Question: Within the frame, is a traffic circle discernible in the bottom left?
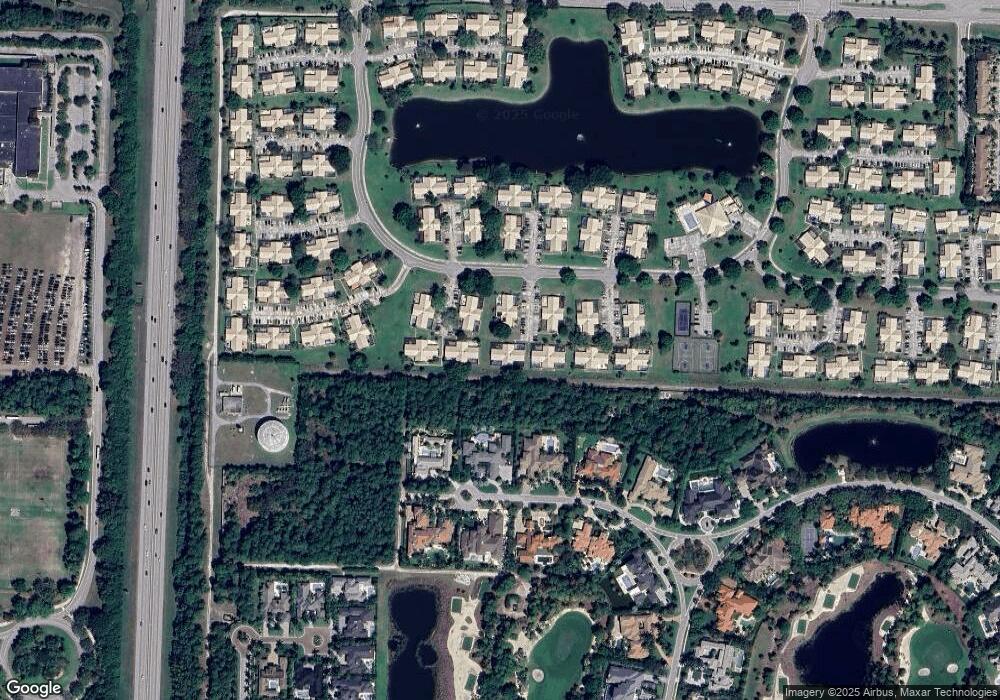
Yes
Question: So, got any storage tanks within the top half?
No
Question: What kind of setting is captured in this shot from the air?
residential area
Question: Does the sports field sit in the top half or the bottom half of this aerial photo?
bottom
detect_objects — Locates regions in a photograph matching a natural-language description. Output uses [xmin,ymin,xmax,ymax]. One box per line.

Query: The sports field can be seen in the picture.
[0,438,65,592]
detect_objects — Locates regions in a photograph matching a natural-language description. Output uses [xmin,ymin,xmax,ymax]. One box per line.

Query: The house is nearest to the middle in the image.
[491,343,524,365]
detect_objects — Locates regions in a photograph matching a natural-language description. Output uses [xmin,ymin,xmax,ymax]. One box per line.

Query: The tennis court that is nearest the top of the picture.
[675,301,691,336]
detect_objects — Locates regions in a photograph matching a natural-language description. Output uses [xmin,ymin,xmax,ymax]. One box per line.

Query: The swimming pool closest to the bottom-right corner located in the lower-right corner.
[978,614,995,638]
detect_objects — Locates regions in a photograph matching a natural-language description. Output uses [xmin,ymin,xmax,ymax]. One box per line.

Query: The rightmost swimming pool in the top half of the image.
[675,204,701,234]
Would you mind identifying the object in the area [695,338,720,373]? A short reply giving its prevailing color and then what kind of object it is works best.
gray basketball court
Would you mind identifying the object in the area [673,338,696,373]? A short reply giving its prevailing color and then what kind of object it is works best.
gray basketball court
